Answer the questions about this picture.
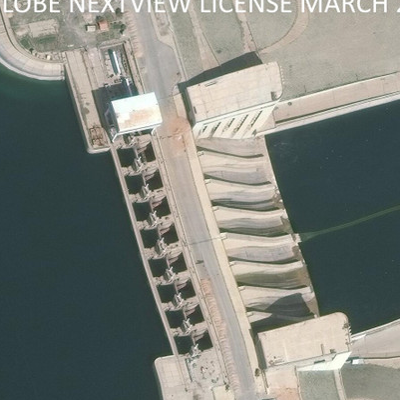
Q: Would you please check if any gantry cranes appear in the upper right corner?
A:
No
